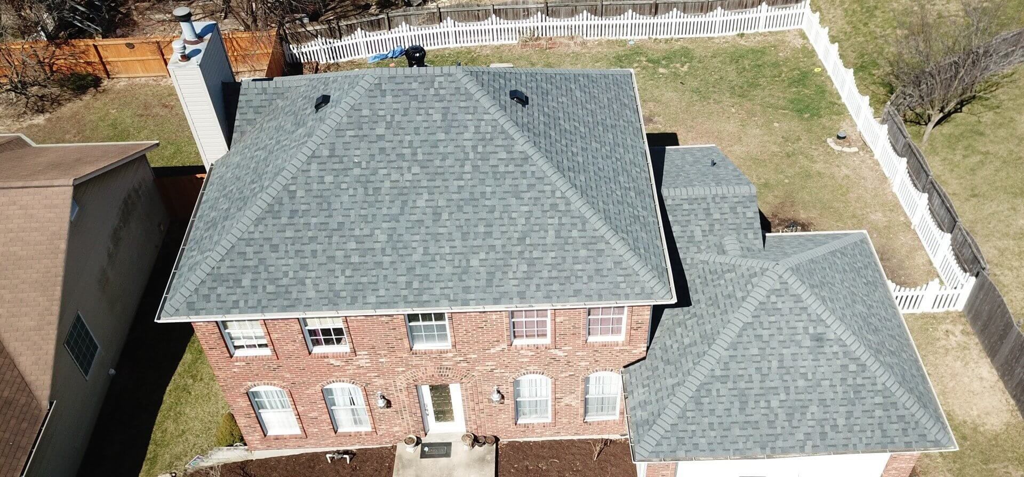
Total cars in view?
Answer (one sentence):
Not a single car can be seen.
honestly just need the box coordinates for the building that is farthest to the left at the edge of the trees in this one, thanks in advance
[0,125,173,477]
